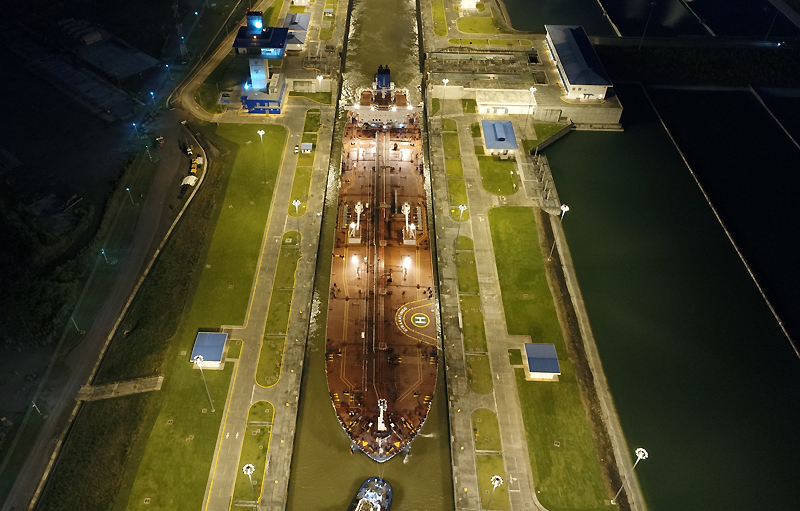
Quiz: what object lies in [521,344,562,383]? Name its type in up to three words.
shed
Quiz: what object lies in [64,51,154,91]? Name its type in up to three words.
building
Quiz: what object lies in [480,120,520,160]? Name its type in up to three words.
building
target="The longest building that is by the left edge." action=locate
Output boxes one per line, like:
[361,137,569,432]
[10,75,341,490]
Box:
[9,63,145,134]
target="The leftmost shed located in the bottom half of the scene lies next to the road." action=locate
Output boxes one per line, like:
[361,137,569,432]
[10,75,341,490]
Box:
[191,332,232,372]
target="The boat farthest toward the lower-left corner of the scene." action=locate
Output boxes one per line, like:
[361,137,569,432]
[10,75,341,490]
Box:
[348,477,390,511]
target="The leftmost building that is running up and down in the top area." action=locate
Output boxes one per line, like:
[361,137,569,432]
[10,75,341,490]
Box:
[233,3,290,116]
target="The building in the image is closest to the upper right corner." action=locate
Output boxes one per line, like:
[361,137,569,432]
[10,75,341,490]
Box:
[544,24,612,102]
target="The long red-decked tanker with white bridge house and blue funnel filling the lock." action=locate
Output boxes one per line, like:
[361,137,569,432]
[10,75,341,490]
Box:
[324,60,447,467]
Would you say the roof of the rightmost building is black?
Yes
